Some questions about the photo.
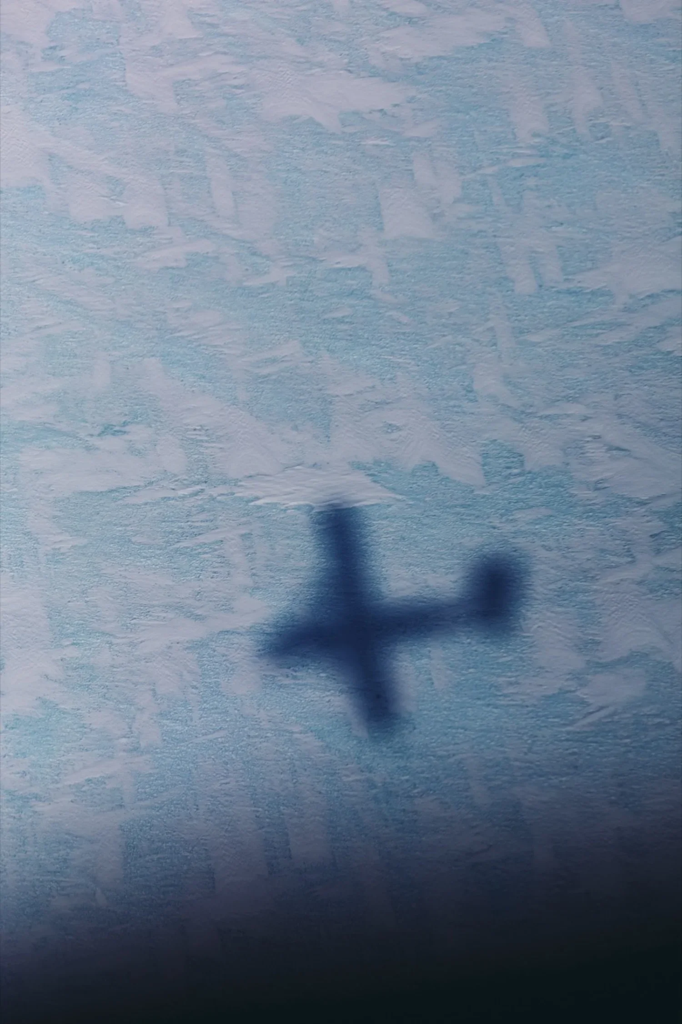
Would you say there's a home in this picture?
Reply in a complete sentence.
No, the frame has no home in it.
